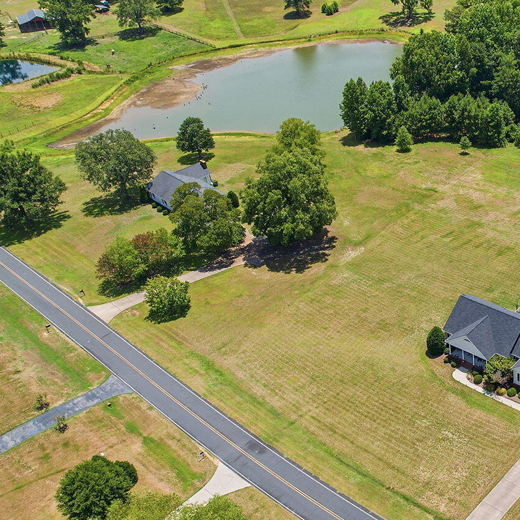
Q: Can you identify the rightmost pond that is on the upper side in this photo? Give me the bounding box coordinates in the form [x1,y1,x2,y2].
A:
[106,40,413,139]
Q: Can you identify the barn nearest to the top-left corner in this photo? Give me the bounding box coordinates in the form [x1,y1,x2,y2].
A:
[16,12,50,32]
